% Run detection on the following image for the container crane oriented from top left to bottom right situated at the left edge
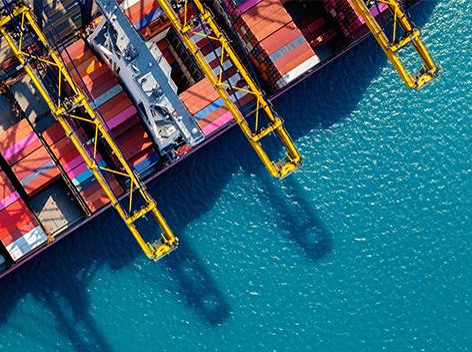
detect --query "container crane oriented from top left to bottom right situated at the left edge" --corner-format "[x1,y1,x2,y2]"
[0,0,178,257]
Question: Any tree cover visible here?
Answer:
No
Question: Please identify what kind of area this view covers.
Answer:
port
